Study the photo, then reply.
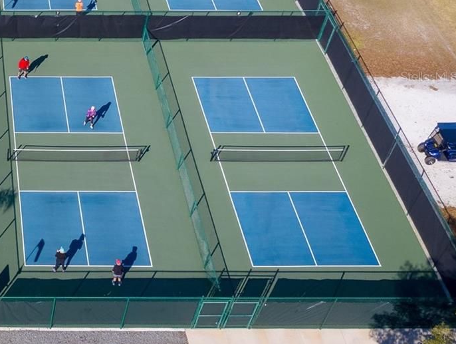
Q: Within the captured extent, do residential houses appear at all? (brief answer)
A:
No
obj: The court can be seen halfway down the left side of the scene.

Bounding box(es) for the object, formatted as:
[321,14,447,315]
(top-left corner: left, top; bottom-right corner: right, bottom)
[0,38,220,323]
